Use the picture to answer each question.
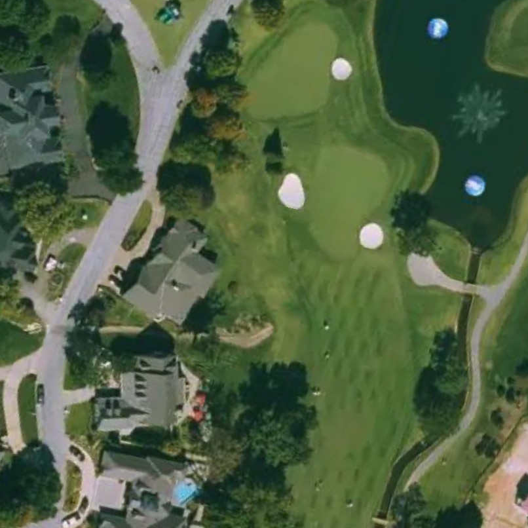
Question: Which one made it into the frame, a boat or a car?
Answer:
car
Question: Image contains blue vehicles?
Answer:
No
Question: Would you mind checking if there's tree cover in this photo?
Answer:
Yes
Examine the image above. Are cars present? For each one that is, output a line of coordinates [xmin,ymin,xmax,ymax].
[44,255,58,274]
[106,275,124,293]
[111,262,125,280]
[69,442,86,459]
[36,385,44,403]
[78,493,90,512]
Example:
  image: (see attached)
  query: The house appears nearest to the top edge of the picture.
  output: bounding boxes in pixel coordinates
[0,65,64,174]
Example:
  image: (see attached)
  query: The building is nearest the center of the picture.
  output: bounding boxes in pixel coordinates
[125,215,218,331]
